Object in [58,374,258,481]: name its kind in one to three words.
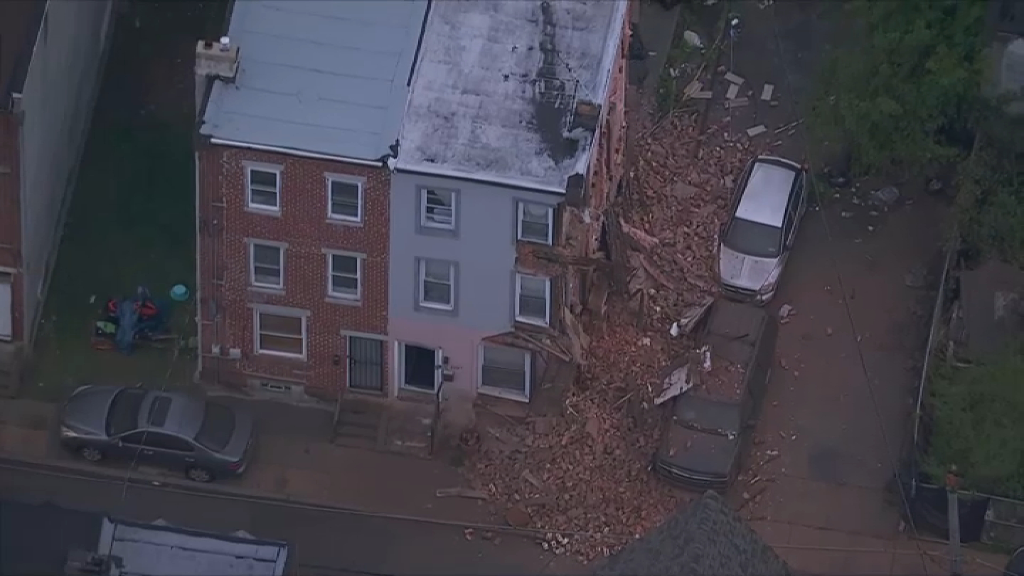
car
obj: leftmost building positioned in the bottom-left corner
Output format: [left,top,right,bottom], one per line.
[0,499,103,576]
